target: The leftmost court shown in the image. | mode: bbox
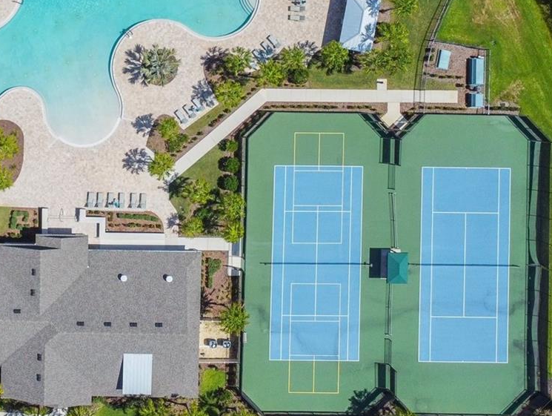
[238,112,392,413]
